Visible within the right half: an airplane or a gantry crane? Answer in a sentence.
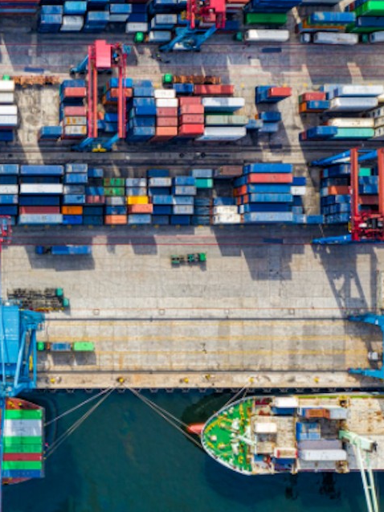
There is a gantry crane within the right half.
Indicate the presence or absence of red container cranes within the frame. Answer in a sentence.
Yes, the photo shows a red container crane.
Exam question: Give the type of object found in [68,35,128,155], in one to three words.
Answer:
container crane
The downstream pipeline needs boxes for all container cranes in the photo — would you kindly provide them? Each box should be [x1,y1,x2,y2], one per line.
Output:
[306,149,384,250]
[68,35,128,155]
[0,197,40,512]
[350,312,384,380]
[158,0,227,54]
